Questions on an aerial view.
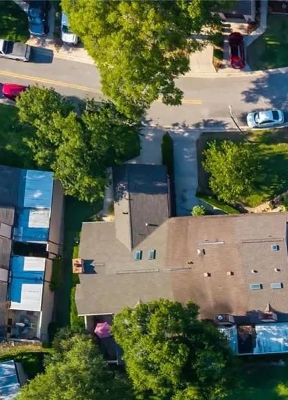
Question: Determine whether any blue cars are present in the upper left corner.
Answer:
Yes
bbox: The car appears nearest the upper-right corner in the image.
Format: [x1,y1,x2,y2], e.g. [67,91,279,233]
[227,33,247,70]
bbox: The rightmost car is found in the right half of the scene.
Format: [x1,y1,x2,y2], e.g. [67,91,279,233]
[247,108,284,129]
